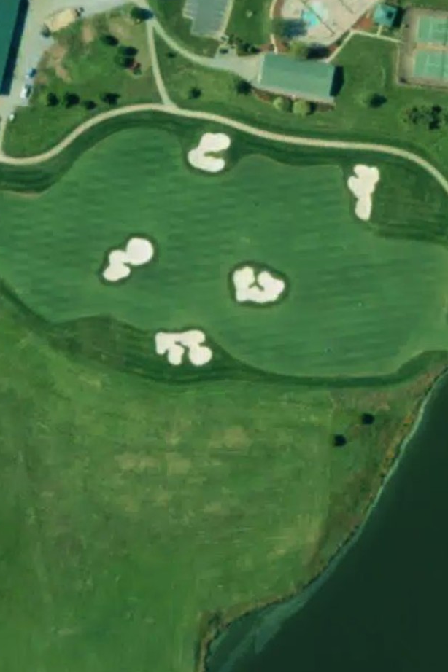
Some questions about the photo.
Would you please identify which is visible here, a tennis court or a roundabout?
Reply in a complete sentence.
Visible in the photo is a tennis court.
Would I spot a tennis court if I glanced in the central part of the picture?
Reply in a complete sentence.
No, the scene shows no tennis court in the central part of the picture.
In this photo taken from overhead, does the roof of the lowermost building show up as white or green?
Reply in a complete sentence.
The roof of the lowermost building looks green in the image.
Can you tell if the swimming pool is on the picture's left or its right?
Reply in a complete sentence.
The swimming pool sits on the right side.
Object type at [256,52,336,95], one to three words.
building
